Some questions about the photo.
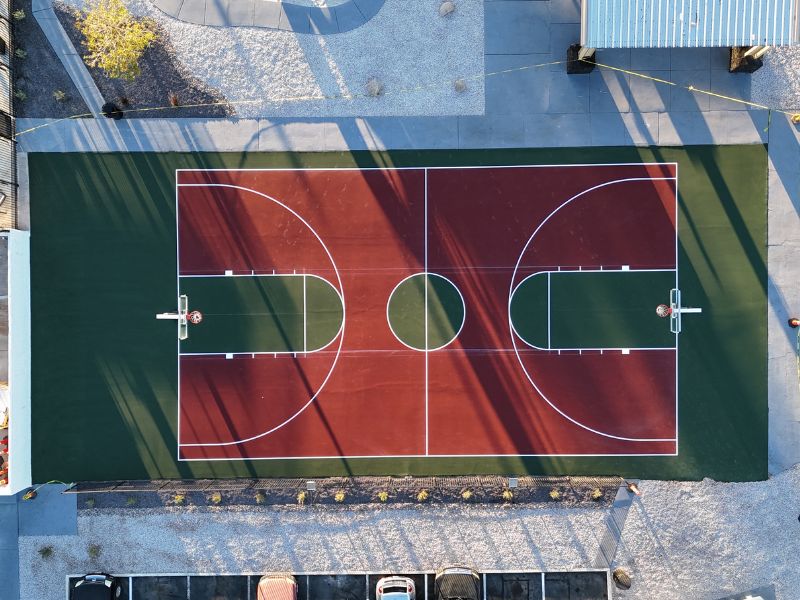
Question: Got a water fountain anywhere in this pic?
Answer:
No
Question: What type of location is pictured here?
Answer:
sports ground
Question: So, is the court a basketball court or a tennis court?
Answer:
basketball court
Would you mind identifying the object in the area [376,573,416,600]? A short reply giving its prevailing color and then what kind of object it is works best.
white car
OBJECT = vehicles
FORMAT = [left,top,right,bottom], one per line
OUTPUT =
[376,573,416,600]
[258,568,300,600]
[77,570,123,600]
[435,562,480,600]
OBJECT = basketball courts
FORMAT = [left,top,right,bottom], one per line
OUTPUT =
[29,145,769,485]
